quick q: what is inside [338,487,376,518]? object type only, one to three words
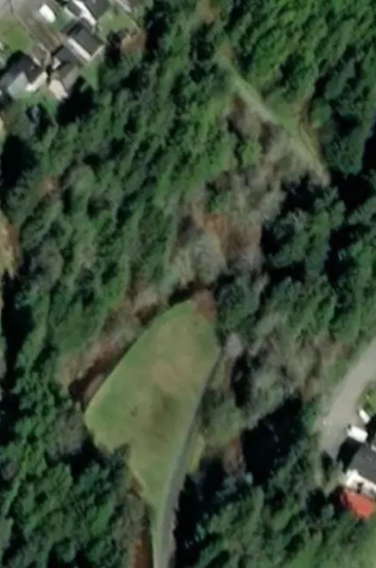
shed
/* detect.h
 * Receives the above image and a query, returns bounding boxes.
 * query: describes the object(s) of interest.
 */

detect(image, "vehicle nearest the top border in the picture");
[39,2,55,20]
